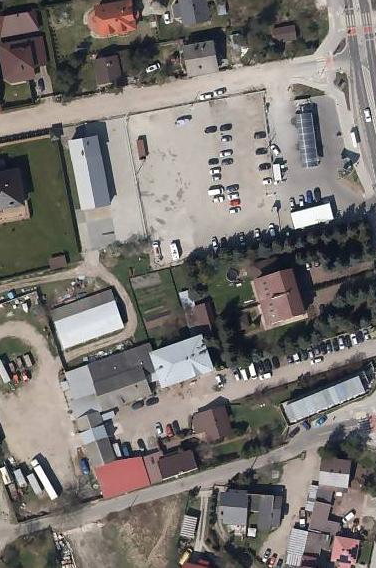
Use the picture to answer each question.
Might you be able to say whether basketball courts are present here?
No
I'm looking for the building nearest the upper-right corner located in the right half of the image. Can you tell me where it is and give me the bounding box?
[273,24,297,43]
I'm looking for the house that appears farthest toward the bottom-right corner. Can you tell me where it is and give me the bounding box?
[329,536,361,568]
